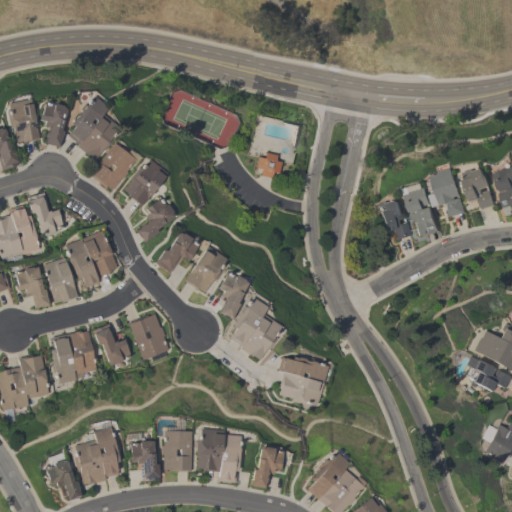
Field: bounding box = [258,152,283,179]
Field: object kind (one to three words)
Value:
building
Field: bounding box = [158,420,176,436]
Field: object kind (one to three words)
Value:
swimming pool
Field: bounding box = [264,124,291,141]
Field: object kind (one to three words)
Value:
swimming pool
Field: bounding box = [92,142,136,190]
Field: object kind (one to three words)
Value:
house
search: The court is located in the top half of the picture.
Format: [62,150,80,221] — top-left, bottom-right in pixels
[166,90,240,148]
